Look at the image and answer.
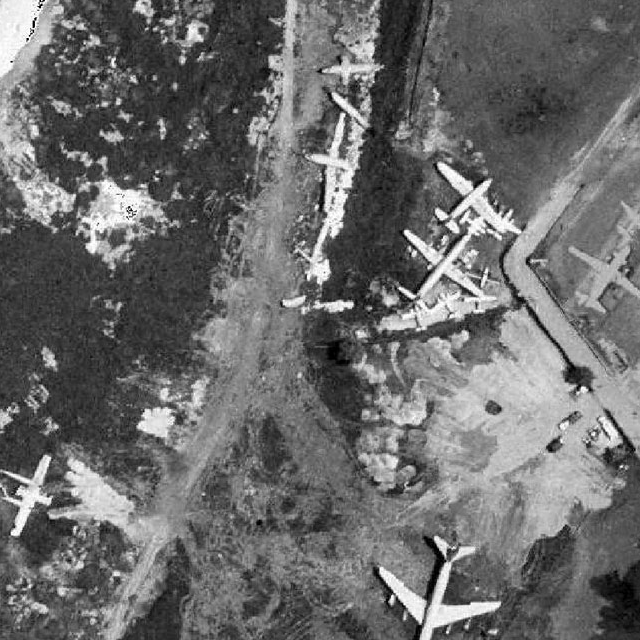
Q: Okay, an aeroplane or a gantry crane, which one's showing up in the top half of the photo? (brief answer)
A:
aeroplane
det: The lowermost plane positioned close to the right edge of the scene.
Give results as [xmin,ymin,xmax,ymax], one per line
[569,244,640,314]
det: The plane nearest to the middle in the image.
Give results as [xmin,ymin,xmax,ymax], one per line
[397,229,485,300]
